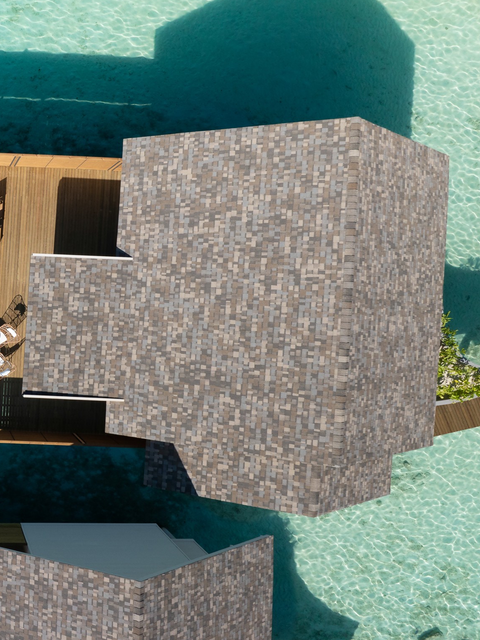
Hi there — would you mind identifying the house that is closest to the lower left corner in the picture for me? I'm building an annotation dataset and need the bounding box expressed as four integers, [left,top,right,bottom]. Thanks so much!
[0,523,269,640]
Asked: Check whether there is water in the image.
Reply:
Yes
